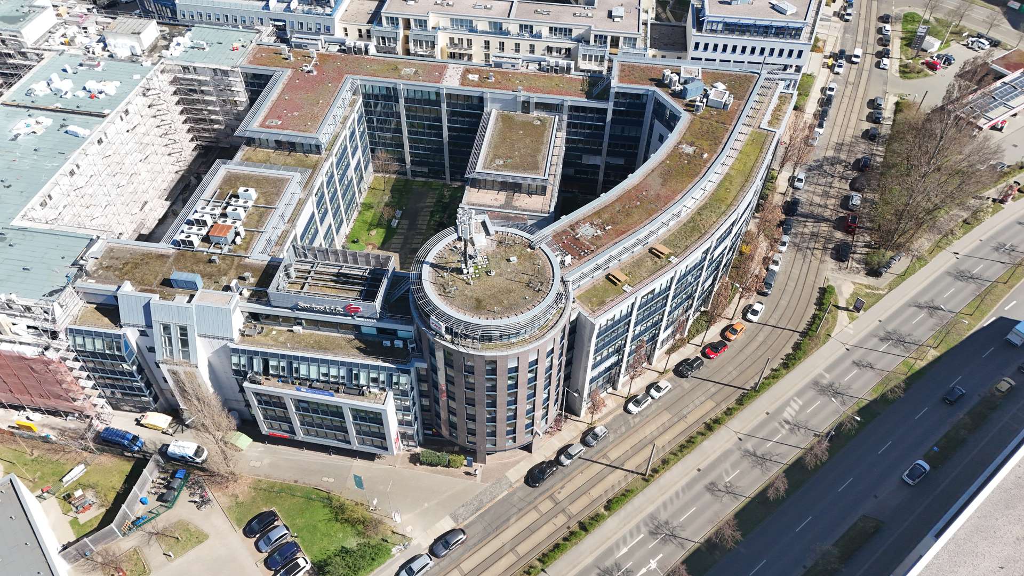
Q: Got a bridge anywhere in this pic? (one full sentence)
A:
No, no bridge can be seen from above.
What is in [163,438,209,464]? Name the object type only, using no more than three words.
vehicle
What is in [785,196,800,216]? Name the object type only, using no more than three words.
car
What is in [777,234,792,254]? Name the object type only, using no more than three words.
car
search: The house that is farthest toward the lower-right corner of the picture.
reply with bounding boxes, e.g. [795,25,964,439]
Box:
[903,443,1024,576]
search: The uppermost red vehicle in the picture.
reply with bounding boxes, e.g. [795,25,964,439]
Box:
[922,58,943,71]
